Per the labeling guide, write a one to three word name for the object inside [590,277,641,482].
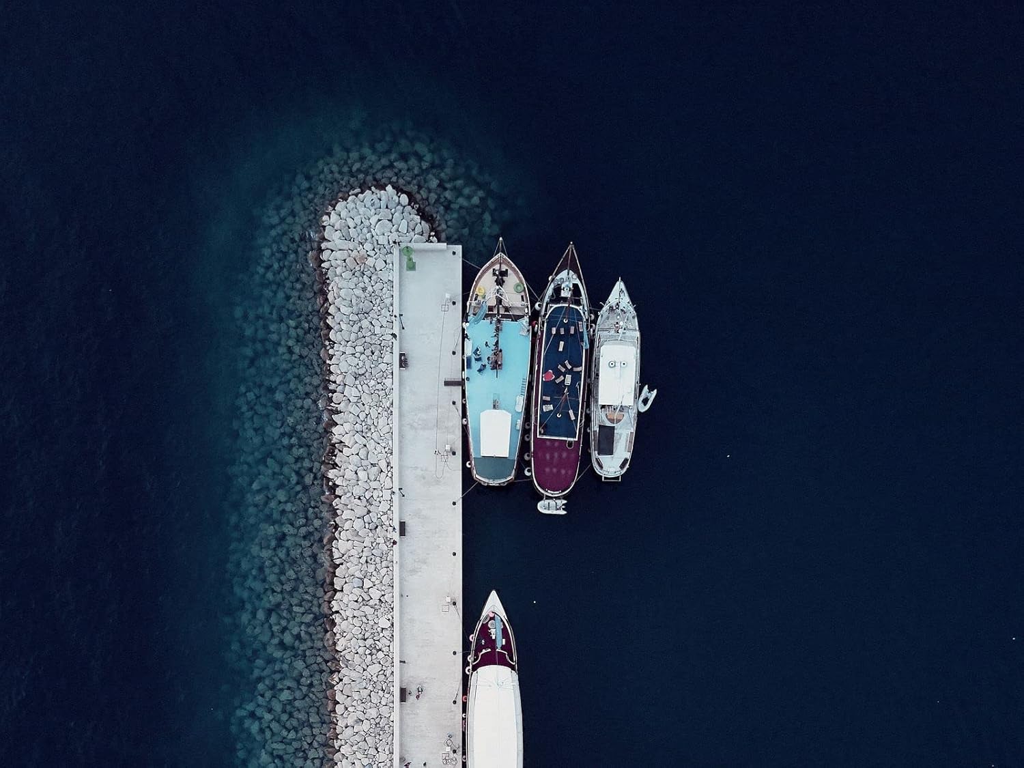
boat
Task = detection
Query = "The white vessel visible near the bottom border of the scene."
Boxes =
[466,590,524,768]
